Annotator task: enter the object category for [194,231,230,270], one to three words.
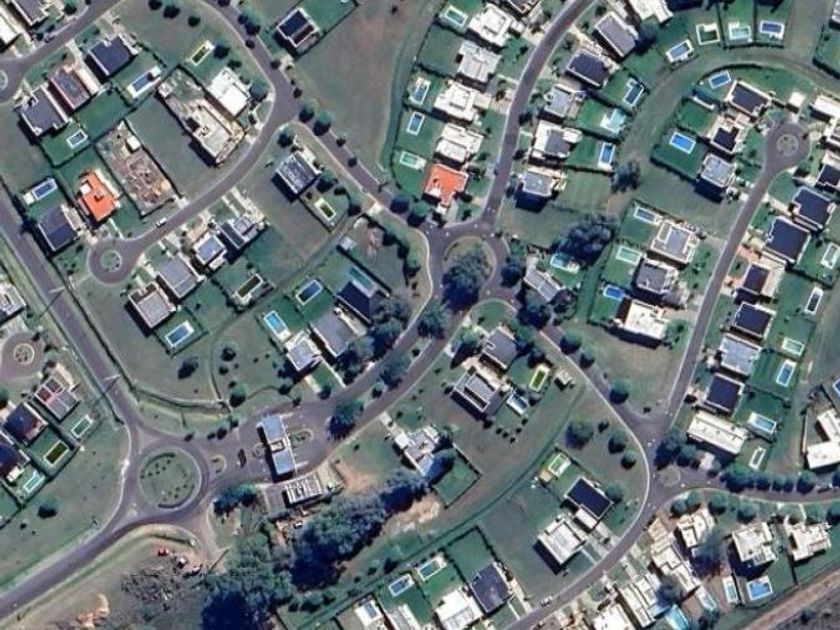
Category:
house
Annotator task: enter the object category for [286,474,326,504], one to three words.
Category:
building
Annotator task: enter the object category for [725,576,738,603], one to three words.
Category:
swimming pool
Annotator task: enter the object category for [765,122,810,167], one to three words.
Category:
roundabout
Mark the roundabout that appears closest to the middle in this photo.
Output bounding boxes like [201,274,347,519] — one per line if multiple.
[426,220,514,308]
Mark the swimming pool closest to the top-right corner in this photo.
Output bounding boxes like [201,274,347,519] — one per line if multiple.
[760,21,784,39]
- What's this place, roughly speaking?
residential area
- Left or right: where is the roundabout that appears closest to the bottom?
left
